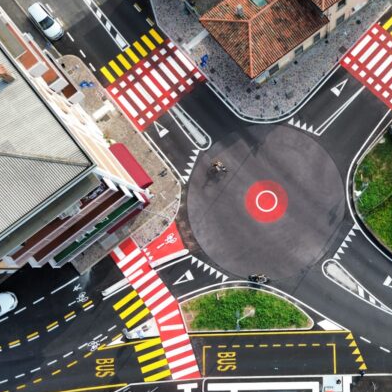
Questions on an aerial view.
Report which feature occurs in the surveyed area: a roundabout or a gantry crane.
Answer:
roundabout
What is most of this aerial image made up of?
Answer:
paved ground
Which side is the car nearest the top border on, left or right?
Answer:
left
